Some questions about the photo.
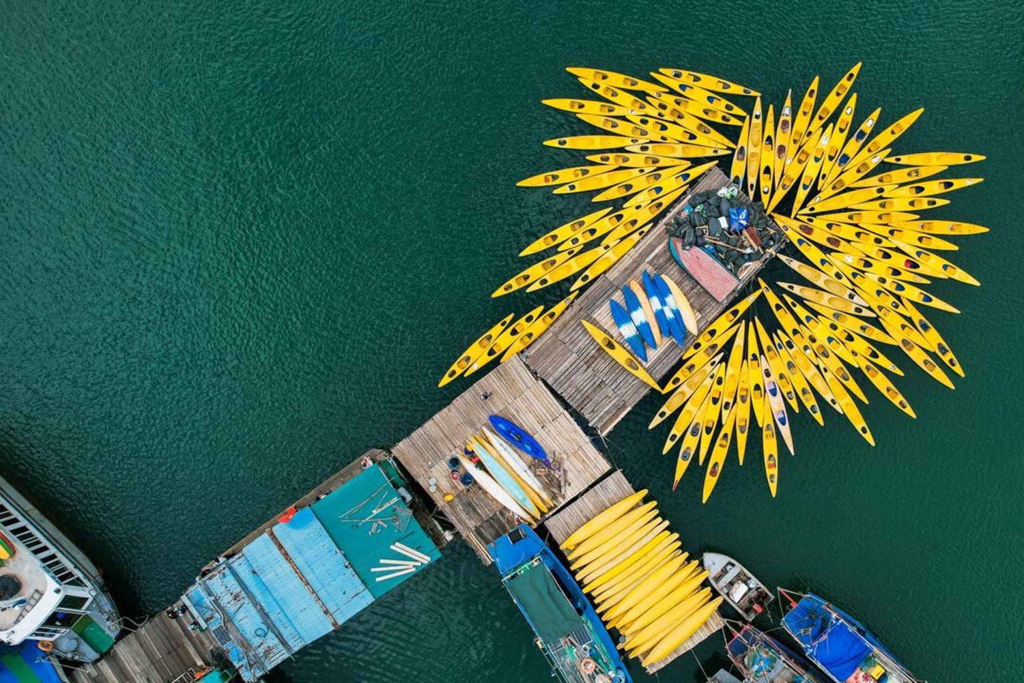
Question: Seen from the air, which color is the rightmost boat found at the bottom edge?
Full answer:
From above, the rightmost boat found at the bottom edge appears blue.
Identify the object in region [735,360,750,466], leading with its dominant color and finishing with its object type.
yellow boat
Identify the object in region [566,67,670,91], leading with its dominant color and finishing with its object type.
yellow boat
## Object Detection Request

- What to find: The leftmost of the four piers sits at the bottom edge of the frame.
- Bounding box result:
[68,447,444,683]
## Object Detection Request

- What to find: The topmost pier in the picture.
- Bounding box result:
[525,168,787,435]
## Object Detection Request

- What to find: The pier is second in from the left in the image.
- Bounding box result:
[392,356,610,565]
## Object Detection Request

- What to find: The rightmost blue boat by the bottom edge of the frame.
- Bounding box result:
[778,587,920,683]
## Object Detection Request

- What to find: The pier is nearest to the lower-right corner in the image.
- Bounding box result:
[546,470,723,673]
